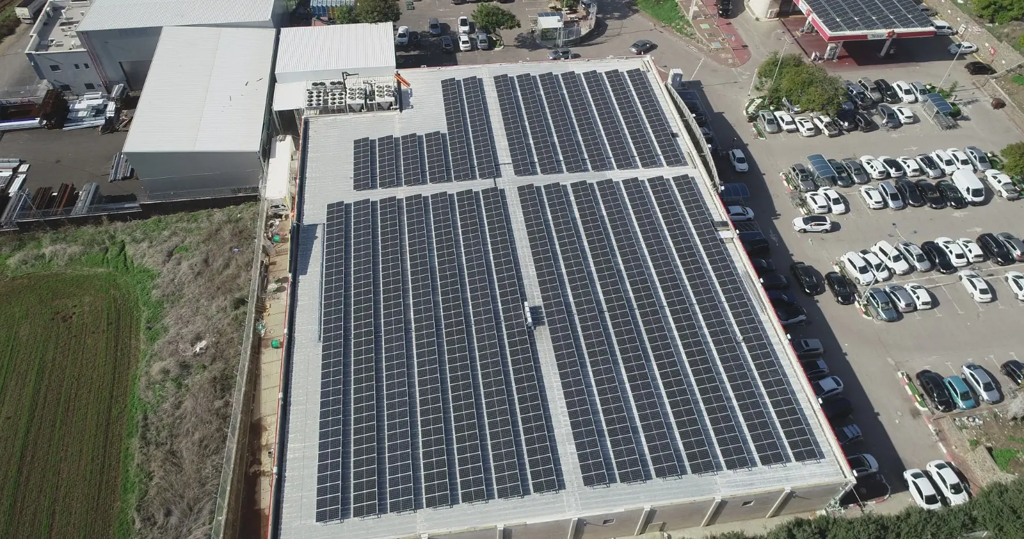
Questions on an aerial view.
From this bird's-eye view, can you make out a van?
Yes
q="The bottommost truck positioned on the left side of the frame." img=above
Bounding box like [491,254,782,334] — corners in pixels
[265,135,294,225]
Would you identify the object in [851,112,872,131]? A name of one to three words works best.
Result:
car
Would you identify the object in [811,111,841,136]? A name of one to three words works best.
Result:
truck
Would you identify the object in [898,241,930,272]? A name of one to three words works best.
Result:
car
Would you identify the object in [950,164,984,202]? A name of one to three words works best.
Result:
van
